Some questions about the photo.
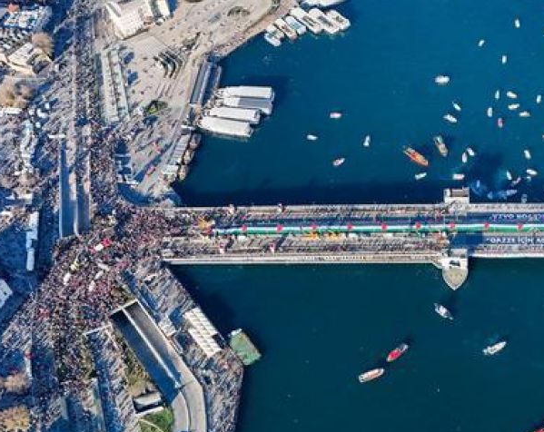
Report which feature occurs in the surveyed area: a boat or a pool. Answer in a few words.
boat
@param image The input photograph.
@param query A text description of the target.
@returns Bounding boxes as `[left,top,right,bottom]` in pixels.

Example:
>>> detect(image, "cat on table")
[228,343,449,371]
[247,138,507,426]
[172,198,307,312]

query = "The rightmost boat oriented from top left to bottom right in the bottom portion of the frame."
[435,302,451,318]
